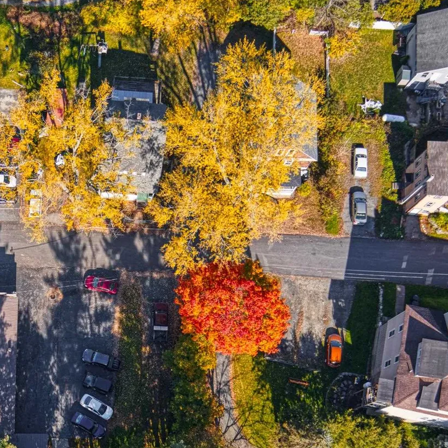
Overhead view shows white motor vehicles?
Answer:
Yes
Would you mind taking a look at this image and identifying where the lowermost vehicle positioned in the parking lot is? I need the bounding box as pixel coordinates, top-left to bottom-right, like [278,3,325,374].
[71,411,106,438]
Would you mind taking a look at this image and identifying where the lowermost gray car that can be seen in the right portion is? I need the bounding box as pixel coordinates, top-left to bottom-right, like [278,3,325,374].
[349,191,367,222]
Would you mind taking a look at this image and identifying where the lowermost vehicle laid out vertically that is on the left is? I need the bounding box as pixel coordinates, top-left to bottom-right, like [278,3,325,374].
[151,303,169,342]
